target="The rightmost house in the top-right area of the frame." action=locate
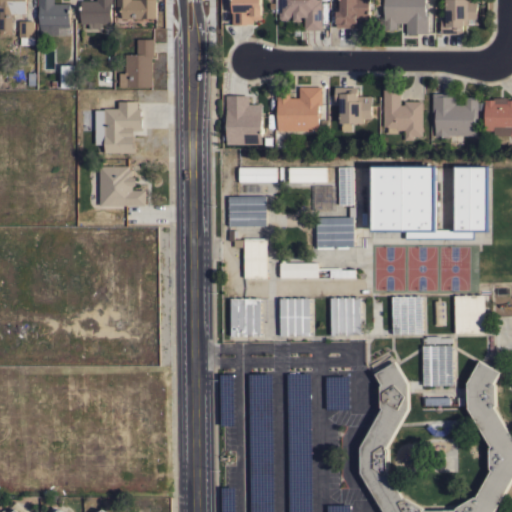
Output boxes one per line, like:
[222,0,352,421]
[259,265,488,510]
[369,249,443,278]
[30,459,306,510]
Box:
[484,99,512,136]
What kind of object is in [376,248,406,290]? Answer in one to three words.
basketball court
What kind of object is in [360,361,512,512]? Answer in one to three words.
building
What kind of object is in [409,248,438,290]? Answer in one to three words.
basketball court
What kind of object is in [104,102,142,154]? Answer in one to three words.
house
